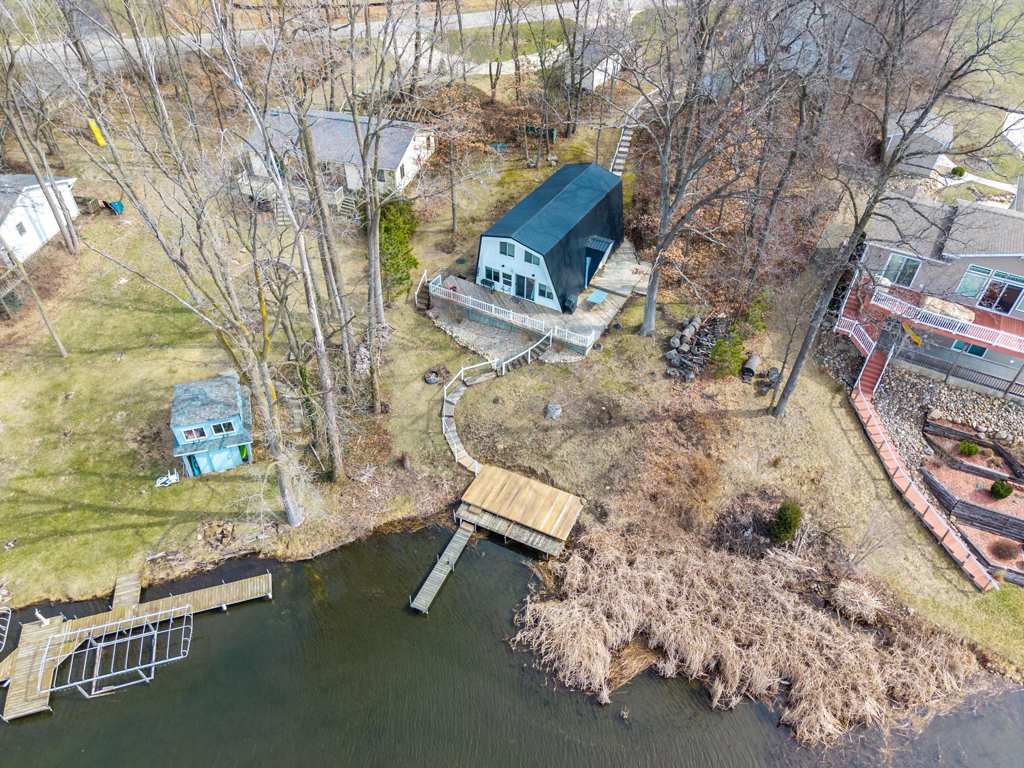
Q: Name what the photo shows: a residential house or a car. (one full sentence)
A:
Of the two, only a residential house appears.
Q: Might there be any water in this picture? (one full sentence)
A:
Yes, the picture does contain water.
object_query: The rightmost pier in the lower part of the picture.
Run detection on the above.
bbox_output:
[454,500,572,560]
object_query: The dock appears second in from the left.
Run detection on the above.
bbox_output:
[409,524,477,621]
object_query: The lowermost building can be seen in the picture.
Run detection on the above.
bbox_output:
[461,465,584,558]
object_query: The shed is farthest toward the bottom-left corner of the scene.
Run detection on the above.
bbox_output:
[167,372,263,479]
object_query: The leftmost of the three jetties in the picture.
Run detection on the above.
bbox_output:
[0,570,273,725]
